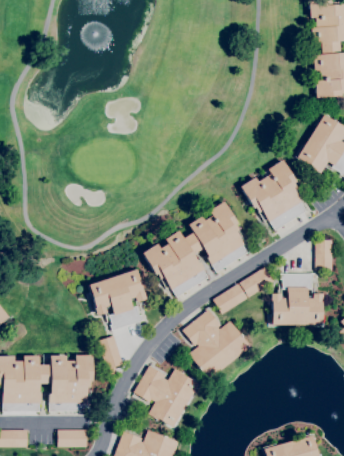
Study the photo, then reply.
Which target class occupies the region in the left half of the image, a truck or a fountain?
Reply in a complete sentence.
Looking in the left half of the image, you will find a fountain.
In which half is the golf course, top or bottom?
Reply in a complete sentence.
The top half of the photo is where the golf course is.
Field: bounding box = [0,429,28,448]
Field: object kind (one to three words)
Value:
building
